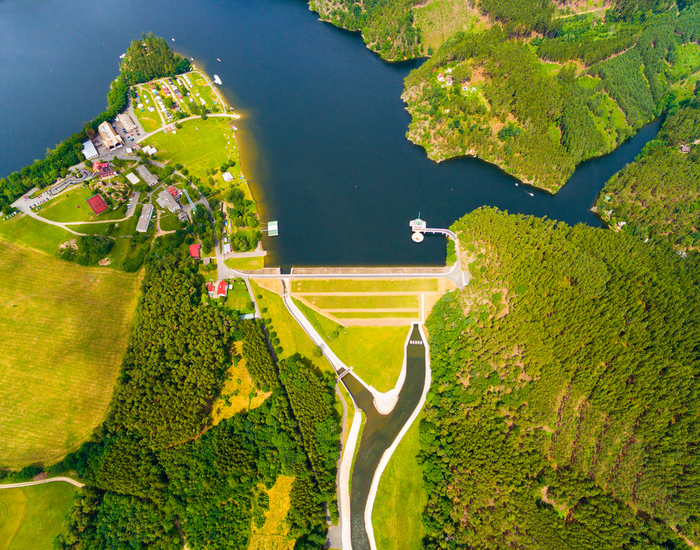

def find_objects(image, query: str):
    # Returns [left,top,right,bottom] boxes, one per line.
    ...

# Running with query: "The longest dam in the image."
[231,265,456,327]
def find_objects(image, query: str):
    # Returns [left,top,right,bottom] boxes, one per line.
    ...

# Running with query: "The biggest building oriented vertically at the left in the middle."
[137,203,156,234]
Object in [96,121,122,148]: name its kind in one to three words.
building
